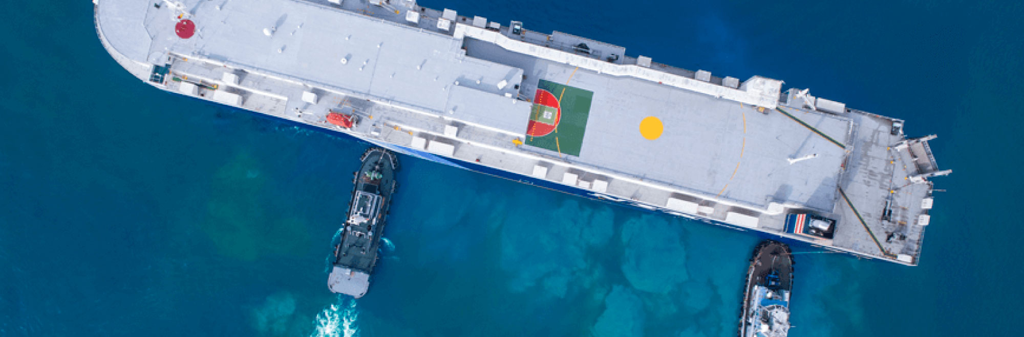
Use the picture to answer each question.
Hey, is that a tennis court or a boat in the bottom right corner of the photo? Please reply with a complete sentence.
Visible in the bottom right corner of the photo is a boat.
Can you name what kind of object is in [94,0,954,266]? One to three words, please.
ship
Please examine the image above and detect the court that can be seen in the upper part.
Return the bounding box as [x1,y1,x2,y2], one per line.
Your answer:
[525,79,594,157]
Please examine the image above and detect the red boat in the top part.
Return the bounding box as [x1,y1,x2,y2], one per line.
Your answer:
[326,113,353,127]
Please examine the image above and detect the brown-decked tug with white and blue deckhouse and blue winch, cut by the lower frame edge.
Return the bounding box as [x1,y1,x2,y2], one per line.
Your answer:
[738,241,796,337]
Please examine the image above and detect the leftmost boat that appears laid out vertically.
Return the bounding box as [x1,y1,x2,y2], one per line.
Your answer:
[328,146,398,298]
